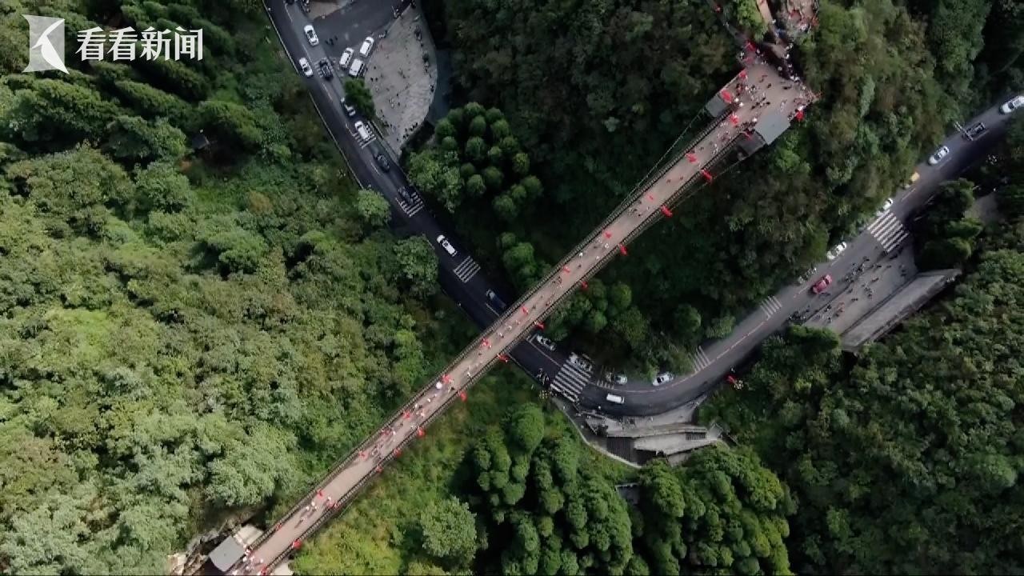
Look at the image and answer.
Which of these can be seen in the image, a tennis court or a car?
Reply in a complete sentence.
This aerial view contains a car.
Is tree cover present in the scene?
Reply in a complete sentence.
Yes, there's tree cover in this view.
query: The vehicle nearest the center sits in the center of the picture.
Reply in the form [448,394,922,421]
[487,291,506,310]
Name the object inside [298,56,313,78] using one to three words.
car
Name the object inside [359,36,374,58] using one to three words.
vehicle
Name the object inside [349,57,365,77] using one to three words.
vehicle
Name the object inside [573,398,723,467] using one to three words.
building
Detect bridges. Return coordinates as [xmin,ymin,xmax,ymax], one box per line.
[218,94,766,576]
